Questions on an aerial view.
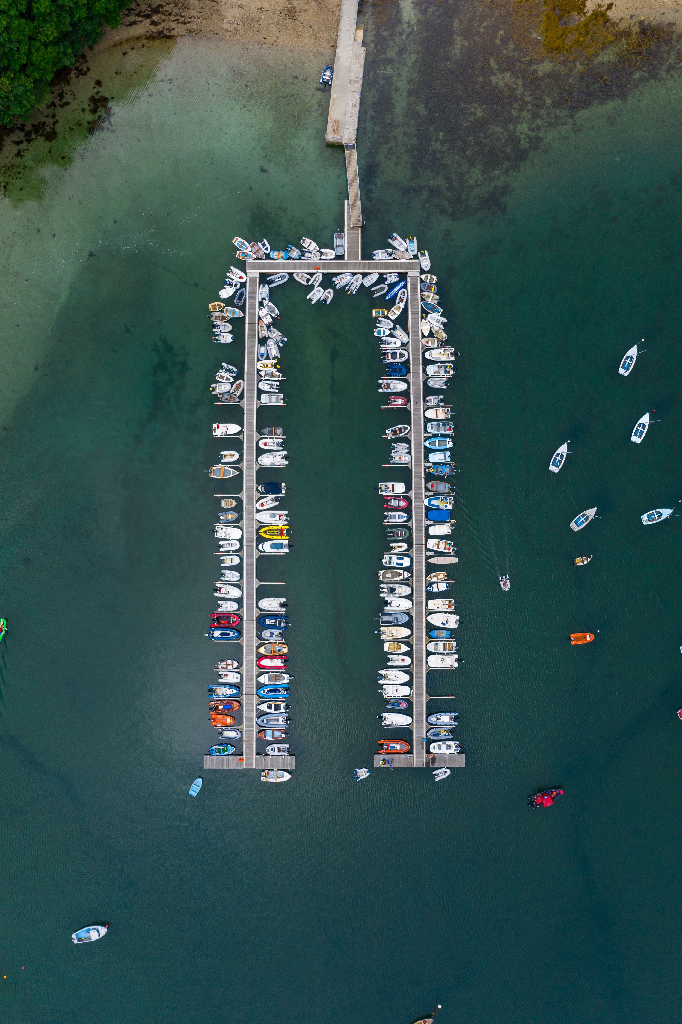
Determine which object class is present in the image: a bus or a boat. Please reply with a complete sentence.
The one in the frame is a boat.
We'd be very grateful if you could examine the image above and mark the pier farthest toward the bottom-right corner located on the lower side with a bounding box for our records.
[426,753,465,767]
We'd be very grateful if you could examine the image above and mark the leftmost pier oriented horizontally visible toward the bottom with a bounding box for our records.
[204,755,243,769]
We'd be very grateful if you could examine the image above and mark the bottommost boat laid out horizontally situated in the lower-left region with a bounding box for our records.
[69,927,107,944]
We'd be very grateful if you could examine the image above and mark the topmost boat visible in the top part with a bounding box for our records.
[320,64,333,86]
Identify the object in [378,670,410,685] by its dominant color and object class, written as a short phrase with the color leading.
white boat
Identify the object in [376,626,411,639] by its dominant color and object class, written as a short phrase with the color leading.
white boat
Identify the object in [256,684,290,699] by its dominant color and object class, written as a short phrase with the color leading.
blue boat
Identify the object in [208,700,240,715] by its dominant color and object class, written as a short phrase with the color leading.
red boat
